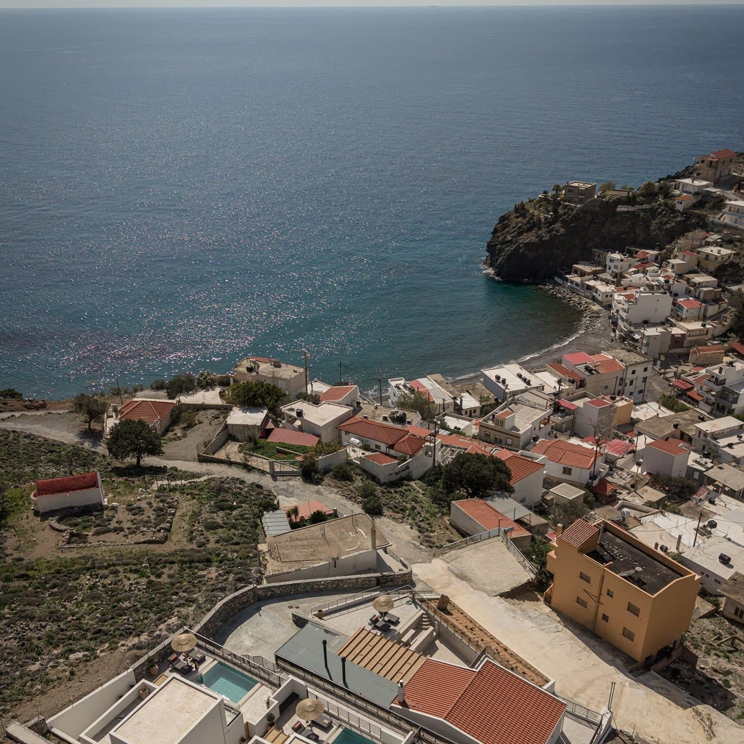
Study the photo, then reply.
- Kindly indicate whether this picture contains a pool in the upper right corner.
No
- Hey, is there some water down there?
Yes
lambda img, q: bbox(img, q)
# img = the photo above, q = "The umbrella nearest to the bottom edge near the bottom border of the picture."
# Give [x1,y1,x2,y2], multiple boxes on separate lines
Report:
[296,696,326,728]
